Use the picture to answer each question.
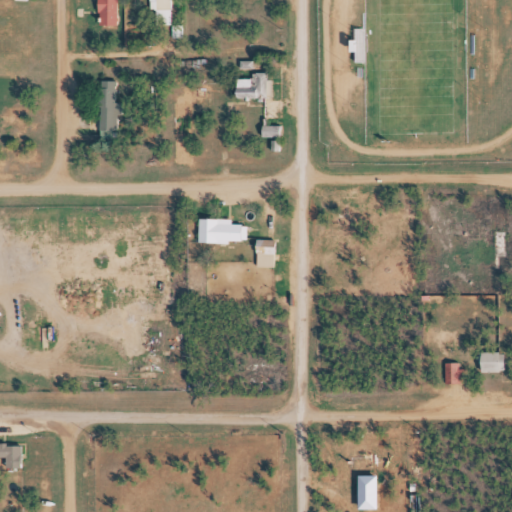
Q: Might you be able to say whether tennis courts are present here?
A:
No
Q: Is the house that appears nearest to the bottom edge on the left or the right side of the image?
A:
right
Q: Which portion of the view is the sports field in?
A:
top right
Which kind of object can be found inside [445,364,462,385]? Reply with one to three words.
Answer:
barn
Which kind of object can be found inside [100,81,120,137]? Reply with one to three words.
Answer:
house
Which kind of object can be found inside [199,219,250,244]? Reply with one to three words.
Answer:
house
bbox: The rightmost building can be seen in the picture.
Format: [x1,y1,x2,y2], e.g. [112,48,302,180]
[480,352,506,373]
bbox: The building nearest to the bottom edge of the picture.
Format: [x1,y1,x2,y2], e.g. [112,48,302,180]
[358,476,380,510]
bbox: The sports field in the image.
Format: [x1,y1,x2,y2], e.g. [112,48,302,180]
[368,0,466,143]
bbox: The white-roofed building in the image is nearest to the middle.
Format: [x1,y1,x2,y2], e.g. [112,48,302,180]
[256,240,278,267]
